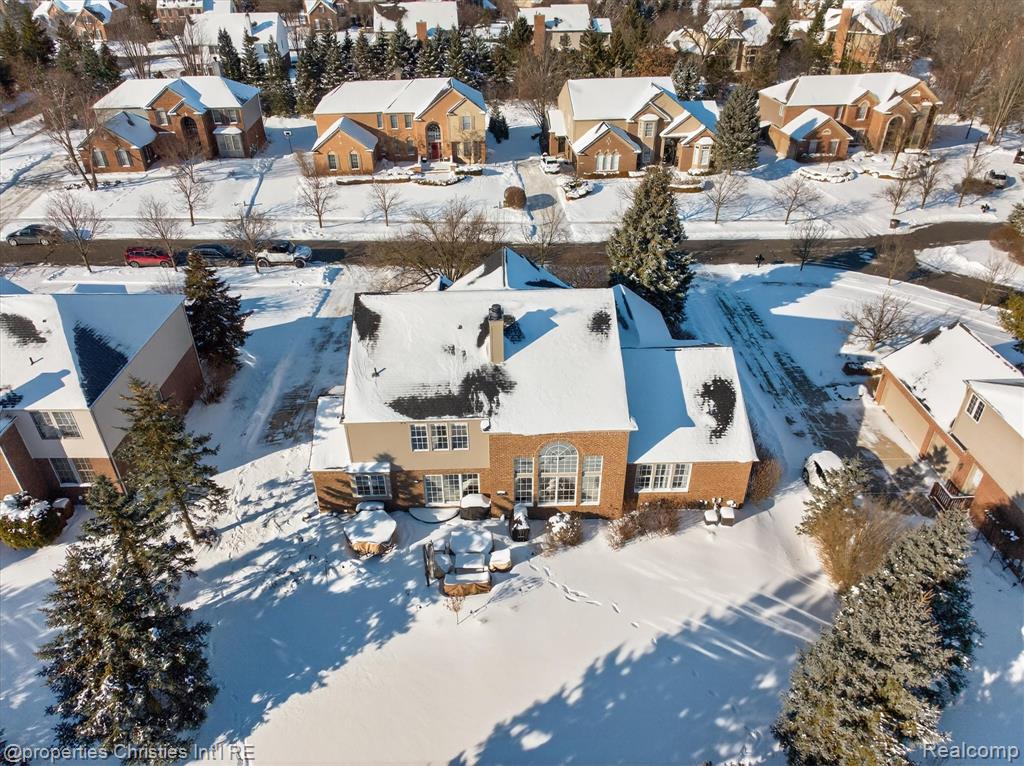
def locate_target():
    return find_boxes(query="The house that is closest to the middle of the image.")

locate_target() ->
[303,247,759,520]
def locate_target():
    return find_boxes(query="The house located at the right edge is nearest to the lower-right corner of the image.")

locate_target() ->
[876,313,1024,549]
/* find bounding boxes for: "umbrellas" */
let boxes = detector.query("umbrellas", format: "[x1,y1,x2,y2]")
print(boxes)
[420,546,439,583]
